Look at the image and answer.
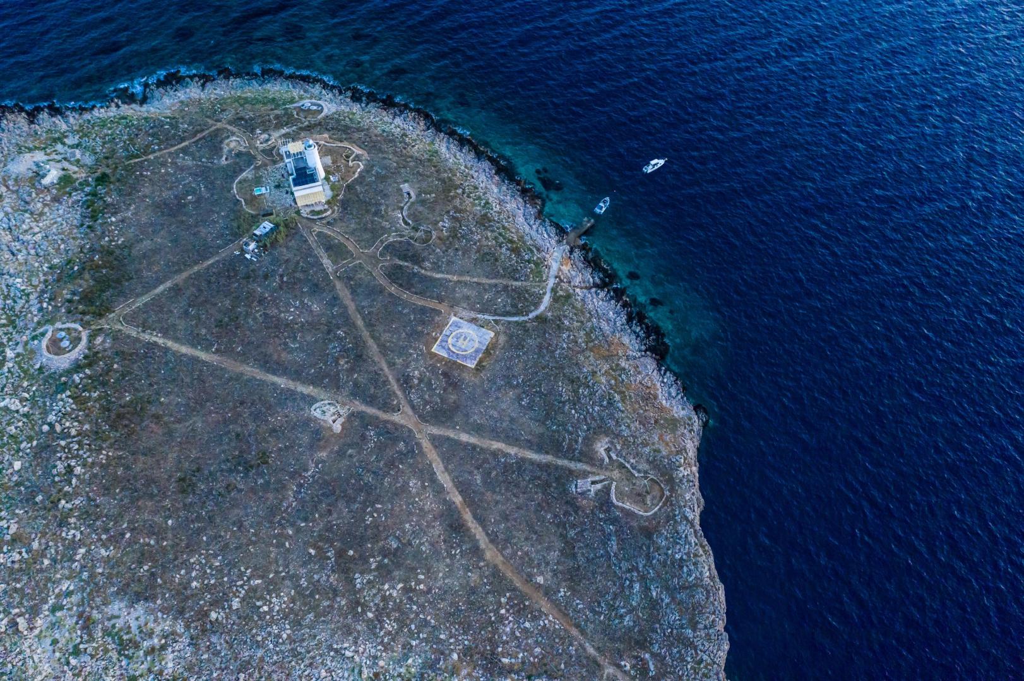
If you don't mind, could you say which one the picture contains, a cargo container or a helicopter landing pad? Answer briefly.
helicopter landing pad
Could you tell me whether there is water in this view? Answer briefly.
Yes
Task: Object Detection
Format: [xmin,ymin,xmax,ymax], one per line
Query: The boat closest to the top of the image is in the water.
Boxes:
[643,158,668,174]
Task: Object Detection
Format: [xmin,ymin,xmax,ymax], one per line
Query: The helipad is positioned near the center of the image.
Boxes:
[432,317,494,368]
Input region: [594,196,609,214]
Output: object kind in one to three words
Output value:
boat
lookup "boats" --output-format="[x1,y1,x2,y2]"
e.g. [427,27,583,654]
[594,196,609,214]
[643,158,668,174]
